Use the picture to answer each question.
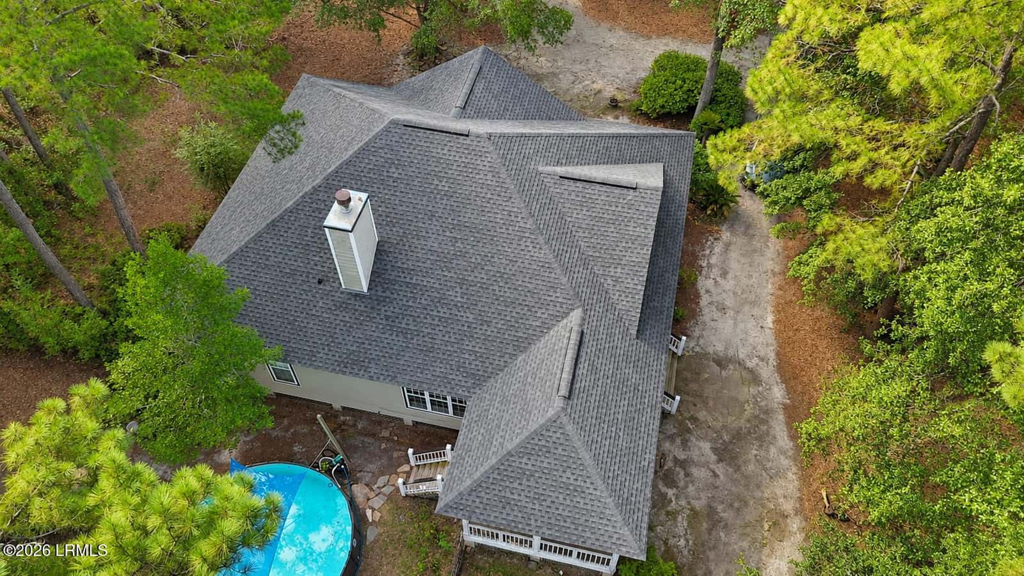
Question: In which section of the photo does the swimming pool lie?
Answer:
bottom left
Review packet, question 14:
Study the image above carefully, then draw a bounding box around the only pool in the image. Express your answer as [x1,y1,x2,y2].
[151,460,363,576]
